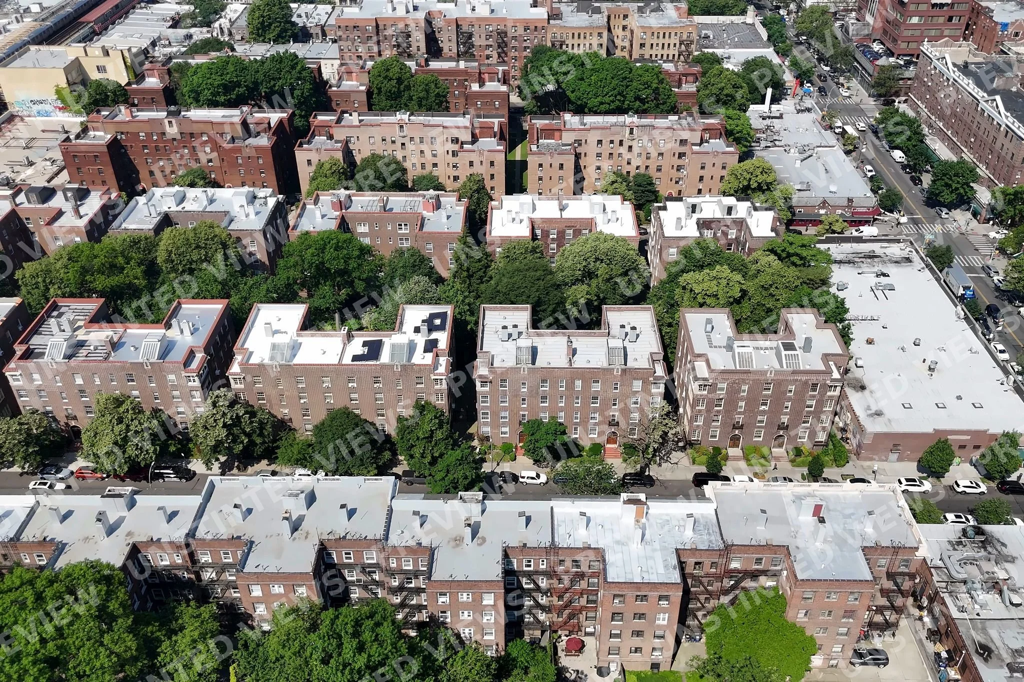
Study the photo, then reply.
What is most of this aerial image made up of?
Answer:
buildings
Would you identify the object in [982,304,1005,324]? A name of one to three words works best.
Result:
car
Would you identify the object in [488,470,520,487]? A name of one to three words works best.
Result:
car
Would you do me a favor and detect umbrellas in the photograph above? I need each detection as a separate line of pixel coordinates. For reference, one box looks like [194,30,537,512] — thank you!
[562,633,587,658]
[595,662,615,682]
